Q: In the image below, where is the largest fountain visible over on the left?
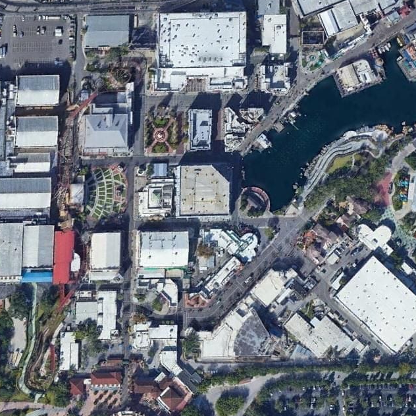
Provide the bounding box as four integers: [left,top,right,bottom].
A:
[151,127,168,144]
